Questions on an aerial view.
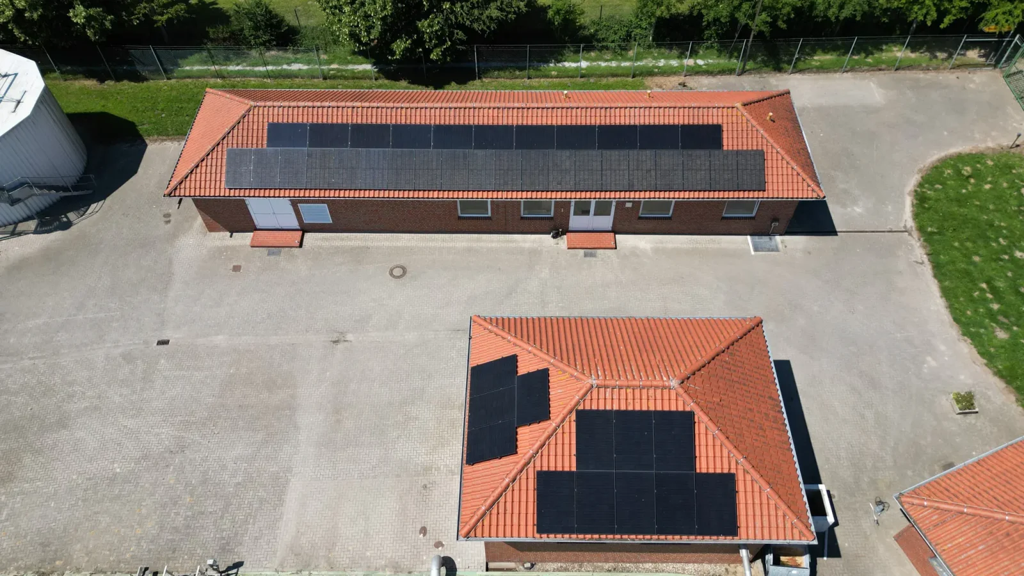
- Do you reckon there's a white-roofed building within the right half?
No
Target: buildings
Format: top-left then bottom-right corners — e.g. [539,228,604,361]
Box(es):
[454,312,823,563]
[892,435,1024,576]
[160,87,830,235]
